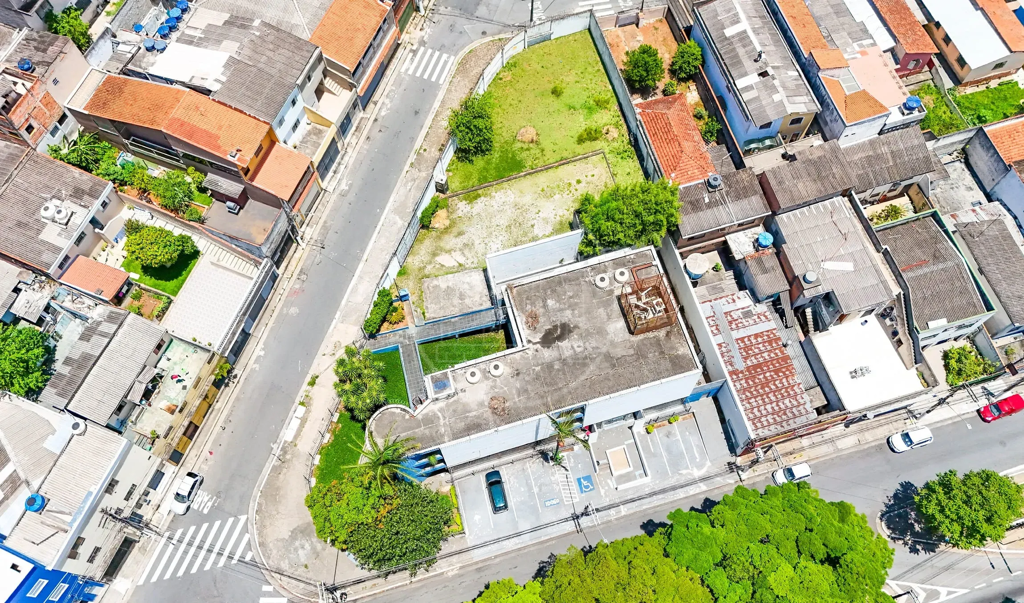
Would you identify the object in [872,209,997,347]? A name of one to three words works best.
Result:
building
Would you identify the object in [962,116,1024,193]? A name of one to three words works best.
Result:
house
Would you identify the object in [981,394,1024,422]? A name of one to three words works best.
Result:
car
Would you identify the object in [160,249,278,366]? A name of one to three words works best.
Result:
building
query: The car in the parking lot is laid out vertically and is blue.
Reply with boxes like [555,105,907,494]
[485,469,509,514]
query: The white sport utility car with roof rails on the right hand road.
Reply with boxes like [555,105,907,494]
[886,426,936,453]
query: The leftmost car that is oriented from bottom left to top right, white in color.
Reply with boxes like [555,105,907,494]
[169,469,205,515]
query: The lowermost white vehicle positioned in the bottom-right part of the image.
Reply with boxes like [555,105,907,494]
[770,460,814,487]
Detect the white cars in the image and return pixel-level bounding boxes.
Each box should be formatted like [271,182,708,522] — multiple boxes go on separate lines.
[886,426,936,453]
[770,460,814,487]
[169,469,205,515]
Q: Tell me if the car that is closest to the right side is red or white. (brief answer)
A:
red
